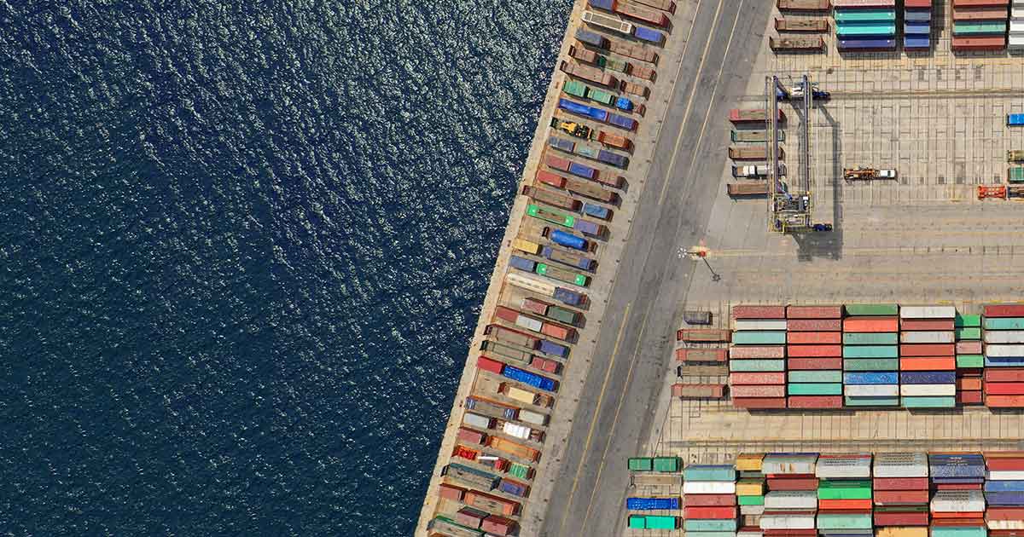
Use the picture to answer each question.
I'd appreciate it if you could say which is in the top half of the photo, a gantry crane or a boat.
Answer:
gantry crane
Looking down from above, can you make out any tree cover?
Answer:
No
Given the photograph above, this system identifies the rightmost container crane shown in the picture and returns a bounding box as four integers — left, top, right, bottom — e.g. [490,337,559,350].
[767,73,831,233]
